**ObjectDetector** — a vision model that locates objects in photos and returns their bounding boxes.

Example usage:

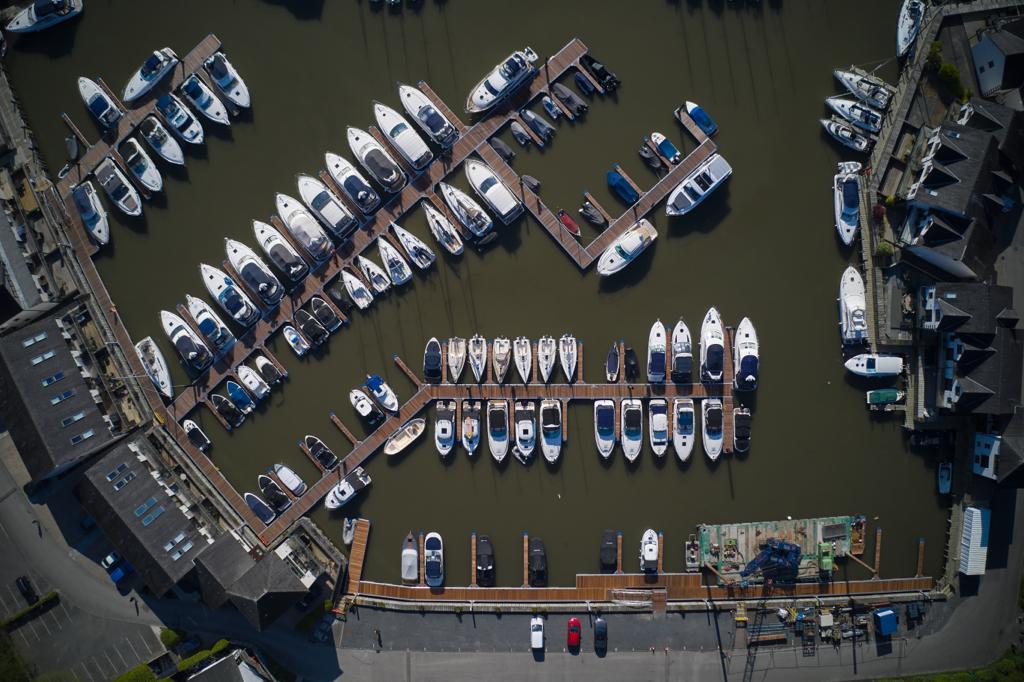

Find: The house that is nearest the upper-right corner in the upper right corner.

[966,27,1024,99]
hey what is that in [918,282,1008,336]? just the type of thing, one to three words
house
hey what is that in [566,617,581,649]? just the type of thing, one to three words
car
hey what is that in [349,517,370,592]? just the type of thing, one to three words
pier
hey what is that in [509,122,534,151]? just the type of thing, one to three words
boat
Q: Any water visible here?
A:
Yes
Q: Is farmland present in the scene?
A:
No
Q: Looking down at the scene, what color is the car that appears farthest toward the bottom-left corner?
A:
black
